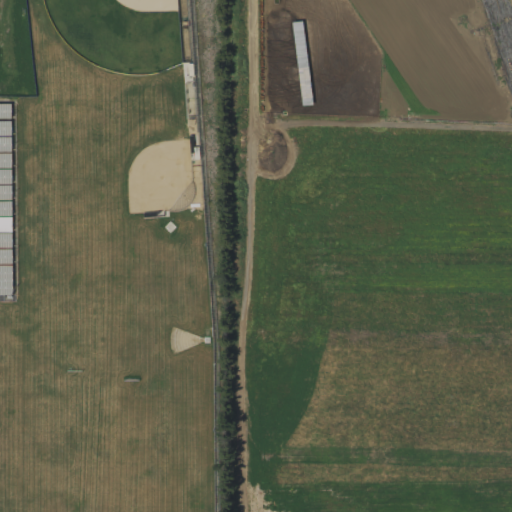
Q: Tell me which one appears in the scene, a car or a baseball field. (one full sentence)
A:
Looking from above, you can make out a baseball field.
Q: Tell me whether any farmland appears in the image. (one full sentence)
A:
Yes, there is farmland in the image.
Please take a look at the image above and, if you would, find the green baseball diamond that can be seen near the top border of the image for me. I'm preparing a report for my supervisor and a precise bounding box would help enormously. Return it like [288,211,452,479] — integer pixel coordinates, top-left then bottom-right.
[45,0,183,74]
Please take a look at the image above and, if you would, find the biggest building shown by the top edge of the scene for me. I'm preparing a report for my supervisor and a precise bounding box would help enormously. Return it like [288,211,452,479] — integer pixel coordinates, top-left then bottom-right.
[293,20,313,105]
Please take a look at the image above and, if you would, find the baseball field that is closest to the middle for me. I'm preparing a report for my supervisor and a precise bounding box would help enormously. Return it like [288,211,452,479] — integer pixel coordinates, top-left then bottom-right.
[129,139,196,214]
